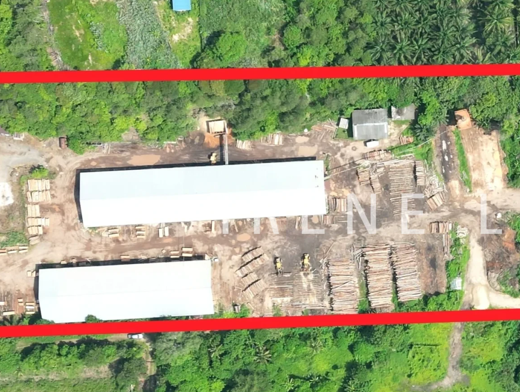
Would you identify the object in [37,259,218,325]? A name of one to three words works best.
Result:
shed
